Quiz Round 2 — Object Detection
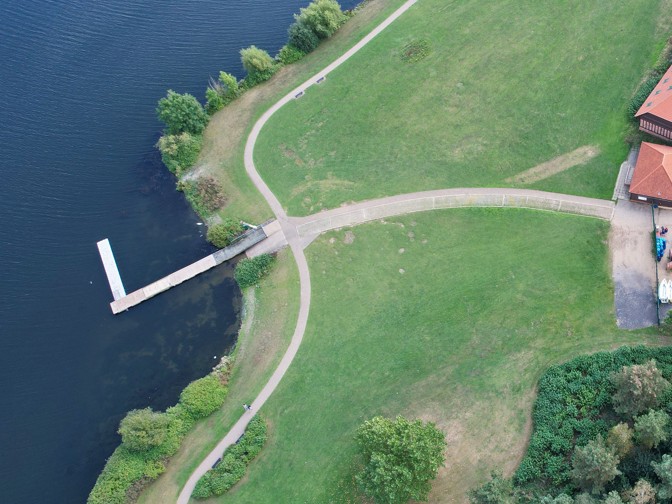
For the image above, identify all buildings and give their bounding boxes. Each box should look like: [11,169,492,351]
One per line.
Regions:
[634,62,672,141]
[629,141,672,210]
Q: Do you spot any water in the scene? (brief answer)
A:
Yes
